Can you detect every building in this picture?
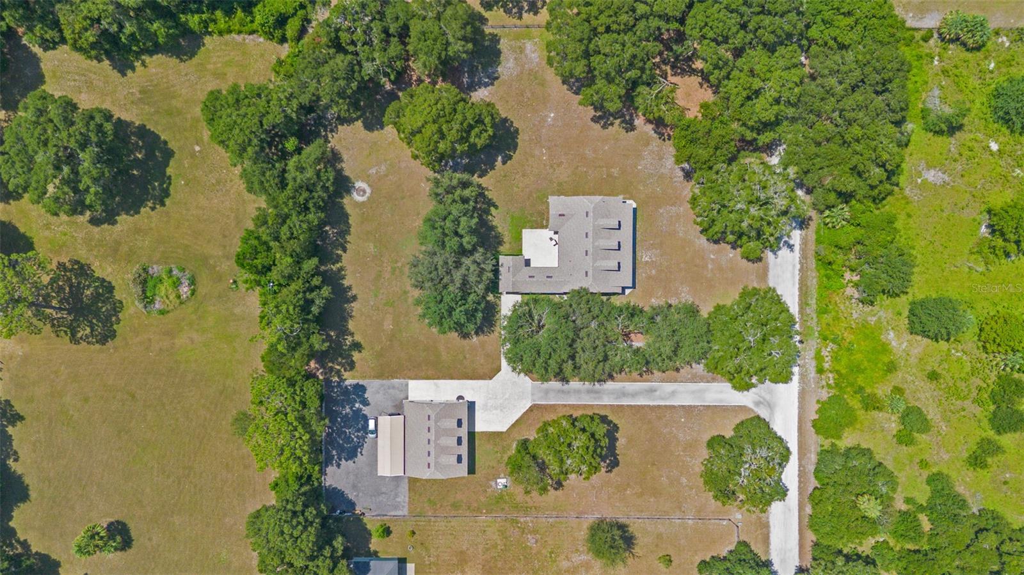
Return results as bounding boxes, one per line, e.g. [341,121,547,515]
[499,194,633,293]
[405,400,468,477]
[347,556,399,575]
